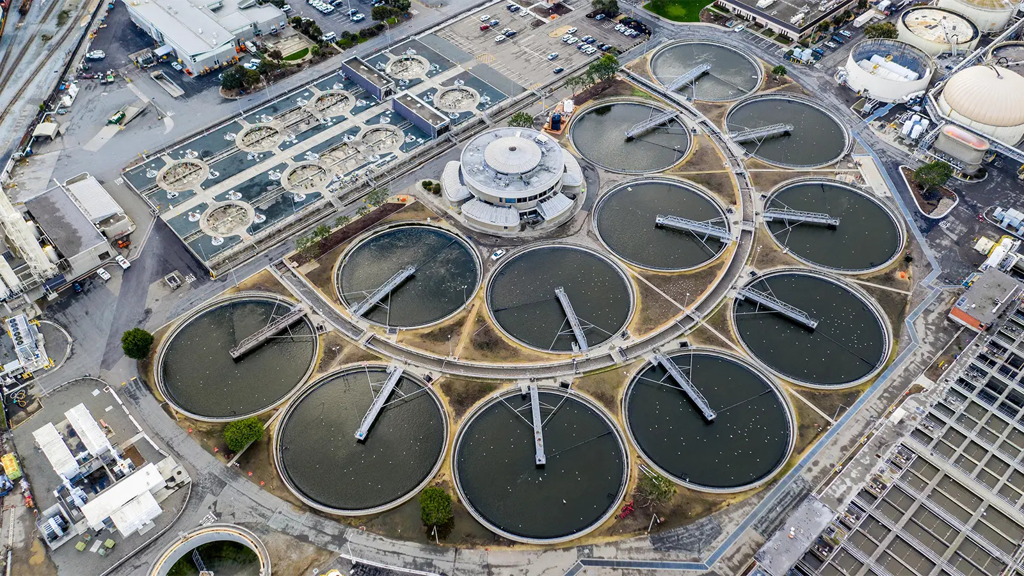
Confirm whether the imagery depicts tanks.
Yes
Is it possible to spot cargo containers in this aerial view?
Yes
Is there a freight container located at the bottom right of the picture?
No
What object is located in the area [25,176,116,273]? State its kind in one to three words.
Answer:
building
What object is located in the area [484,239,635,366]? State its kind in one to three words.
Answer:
storage tank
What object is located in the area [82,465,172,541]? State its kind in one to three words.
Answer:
shed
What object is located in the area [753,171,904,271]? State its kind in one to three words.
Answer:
storage tank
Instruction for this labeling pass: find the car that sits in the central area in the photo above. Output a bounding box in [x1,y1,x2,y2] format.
[490,248,507,261]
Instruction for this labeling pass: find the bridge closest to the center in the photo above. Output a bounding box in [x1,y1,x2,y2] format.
[548,284,611,359]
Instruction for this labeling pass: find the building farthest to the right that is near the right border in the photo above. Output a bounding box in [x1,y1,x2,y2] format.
[942,265,1024,343]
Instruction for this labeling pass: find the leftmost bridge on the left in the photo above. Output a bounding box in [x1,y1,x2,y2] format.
[228,298,314,357]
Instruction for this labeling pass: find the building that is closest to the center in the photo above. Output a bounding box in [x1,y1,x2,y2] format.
[442,126,586,231]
